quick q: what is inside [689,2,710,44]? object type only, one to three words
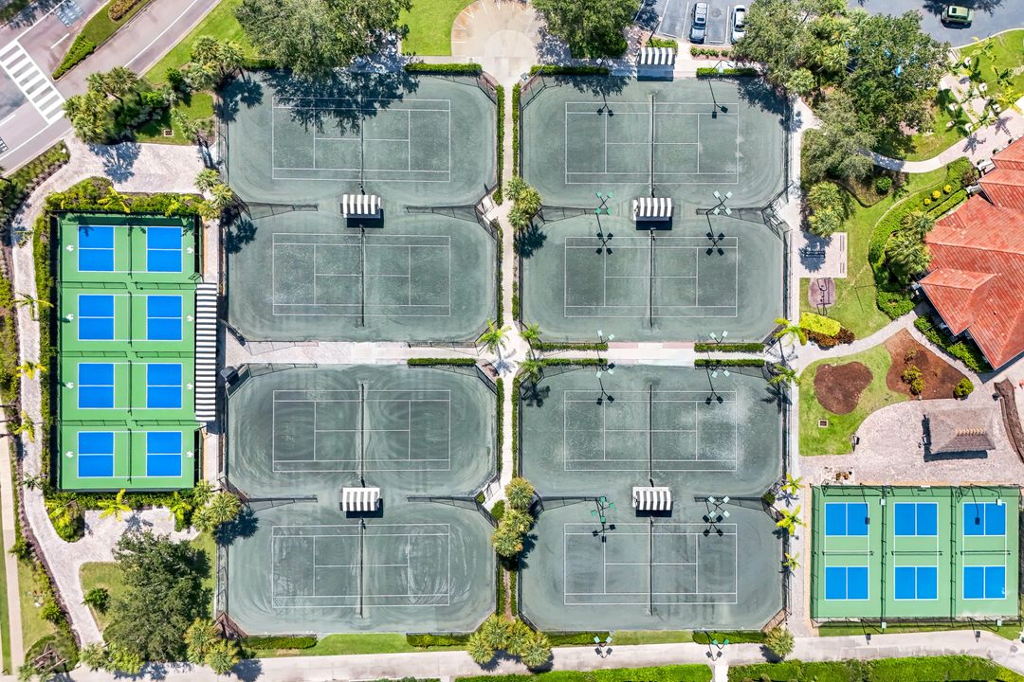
car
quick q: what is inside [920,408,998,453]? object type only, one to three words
gazebo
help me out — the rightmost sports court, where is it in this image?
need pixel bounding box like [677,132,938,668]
[953,487,1020,619]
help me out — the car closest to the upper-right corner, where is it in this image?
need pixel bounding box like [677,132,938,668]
[939,7,977,28]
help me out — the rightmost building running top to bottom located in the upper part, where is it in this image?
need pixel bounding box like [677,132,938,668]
[916,138,1024,370]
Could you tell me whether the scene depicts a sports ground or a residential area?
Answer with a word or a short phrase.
sports ground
